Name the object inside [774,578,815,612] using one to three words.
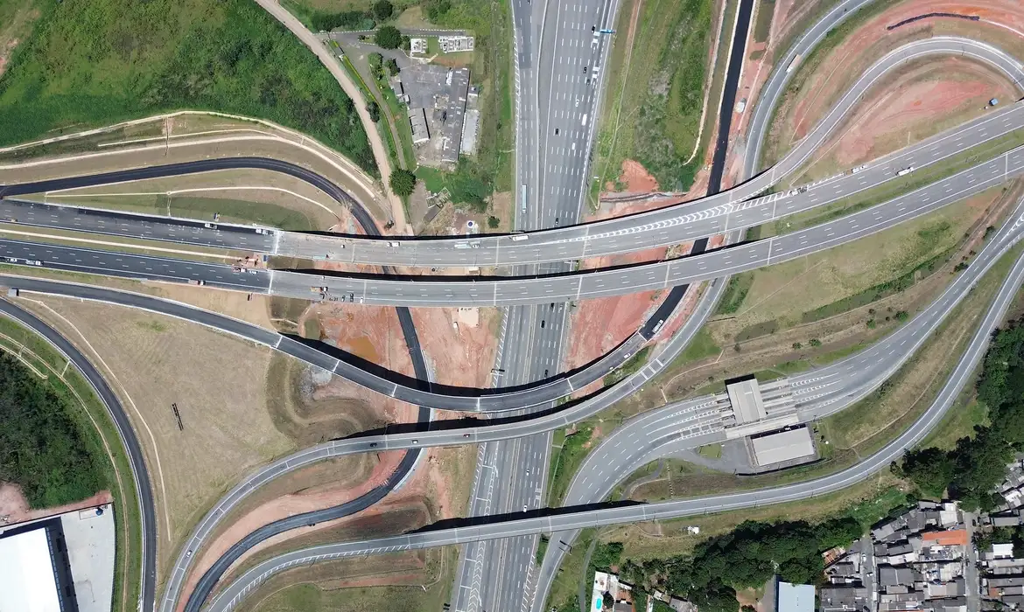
shed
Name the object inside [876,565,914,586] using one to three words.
house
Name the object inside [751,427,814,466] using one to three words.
building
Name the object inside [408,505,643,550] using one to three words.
bridge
